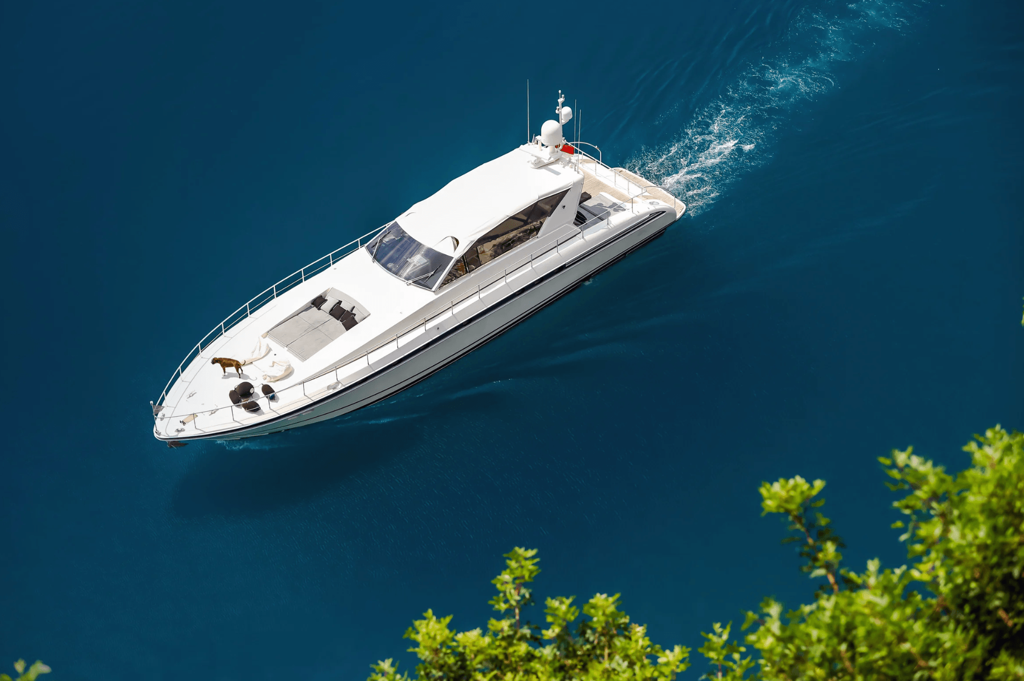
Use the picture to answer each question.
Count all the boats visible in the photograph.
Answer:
1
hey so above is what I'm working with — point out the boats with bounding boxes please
[150,80,684,447]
